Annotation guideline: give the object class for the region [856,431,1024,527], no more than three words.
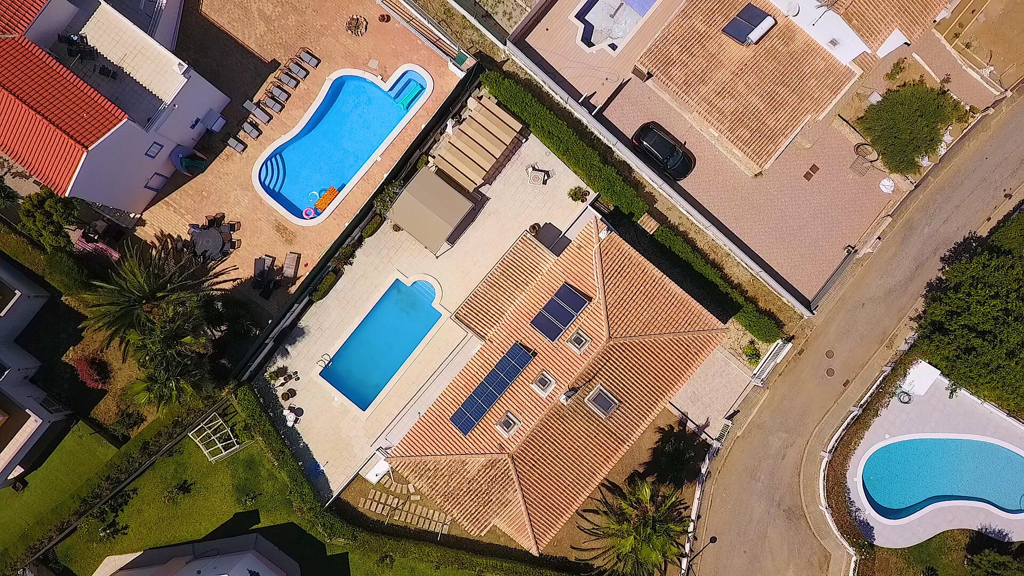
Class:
swimming pool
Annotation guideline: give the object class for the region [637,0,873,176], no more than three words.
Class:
house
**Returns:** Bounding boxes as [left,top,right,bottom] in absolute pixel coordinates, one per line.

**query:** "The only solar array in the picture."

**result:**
[450,341,534,435]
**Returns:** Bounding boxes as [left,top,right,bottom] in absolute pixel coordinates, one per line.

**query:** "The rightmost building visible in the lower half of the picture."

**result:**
[890,359,941,396]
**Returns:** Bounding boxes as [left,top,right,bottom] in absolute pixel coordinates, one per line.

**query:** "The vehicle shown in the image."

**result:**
[630,119,695,182]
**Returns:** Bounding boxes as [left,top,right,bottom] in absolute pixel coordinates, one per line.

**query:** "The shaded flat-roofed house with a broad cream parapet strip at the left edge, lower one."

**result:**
[0,341,73,502]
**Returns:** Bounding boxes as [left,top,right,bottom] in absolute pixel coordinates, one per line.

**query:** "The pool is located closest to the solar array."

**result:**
[309,269,450,421]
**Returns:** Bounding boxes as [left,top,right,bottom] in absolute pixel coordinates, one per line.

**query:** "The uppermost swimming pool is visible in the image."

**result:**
[569,0,665,59]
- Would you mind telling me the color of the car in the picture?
black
